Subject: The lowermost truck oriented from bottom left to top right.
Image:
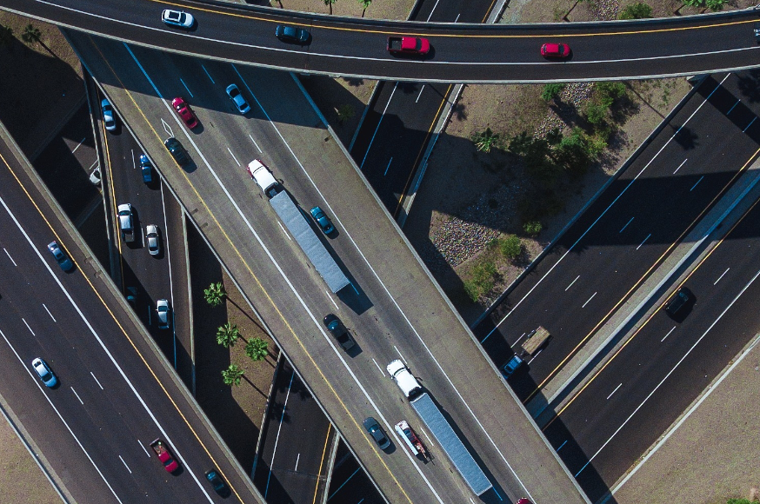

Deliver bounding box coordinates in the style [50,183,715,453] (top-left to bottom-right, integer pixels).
[501,355,528,383]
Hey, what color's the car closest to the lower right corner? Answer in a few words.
black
